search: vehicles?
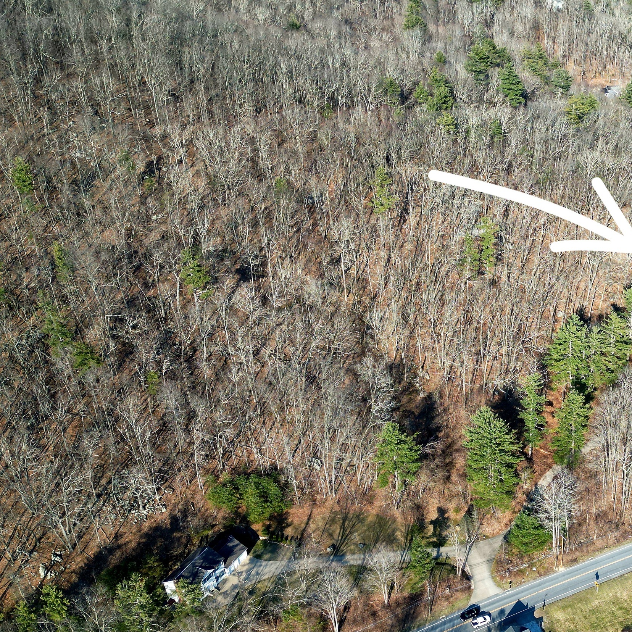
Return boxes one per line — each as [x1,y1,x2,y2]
[468,611,492,627]
[455,605,476,619]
